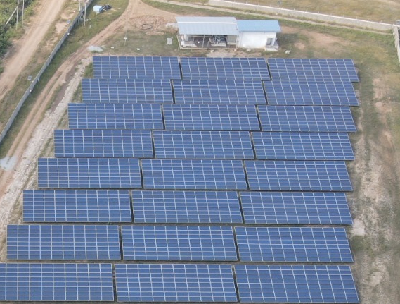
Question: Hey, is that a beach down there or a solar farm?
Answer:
solar farm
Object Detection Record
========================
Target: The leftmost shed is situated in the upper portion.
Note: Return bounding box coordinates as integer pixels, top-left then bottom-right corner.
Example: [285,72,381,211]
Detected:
[174,17,241,50]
